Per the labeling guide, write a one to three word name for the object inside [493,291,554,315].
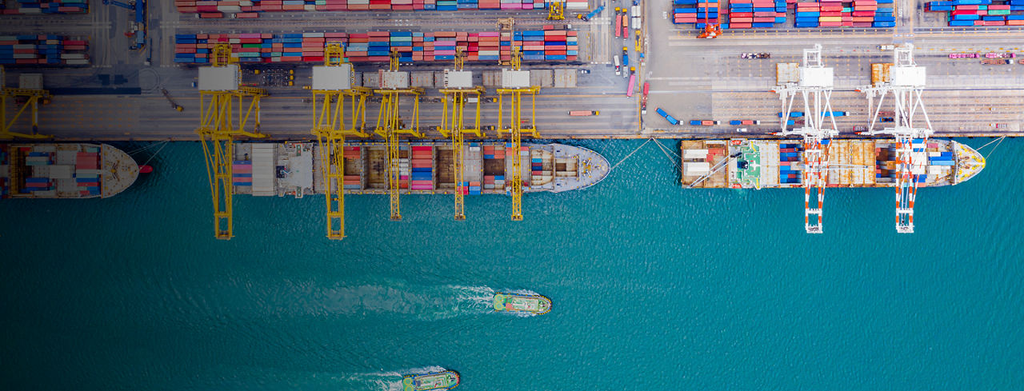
boat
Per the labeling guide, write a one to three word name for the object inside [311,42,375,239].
container crane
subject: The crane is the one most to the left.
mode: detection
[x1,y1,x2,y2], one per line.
[0,65,45,151]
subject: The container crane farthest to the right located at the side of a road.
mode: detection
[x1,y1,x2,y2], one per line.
[851,38,929,233]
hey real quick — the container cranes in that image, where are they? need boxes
[851,38,929,233]
[439,51,491,219]
[496,19,516,70]
[493,47,546,220]
[0,65,45,151]
[311,42,375,239]
[545,0,566,27]
[198,42,269,239]
[766,38,834,233]
[374,51,430,220]
[697,0,721,43]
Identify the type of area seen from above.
port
